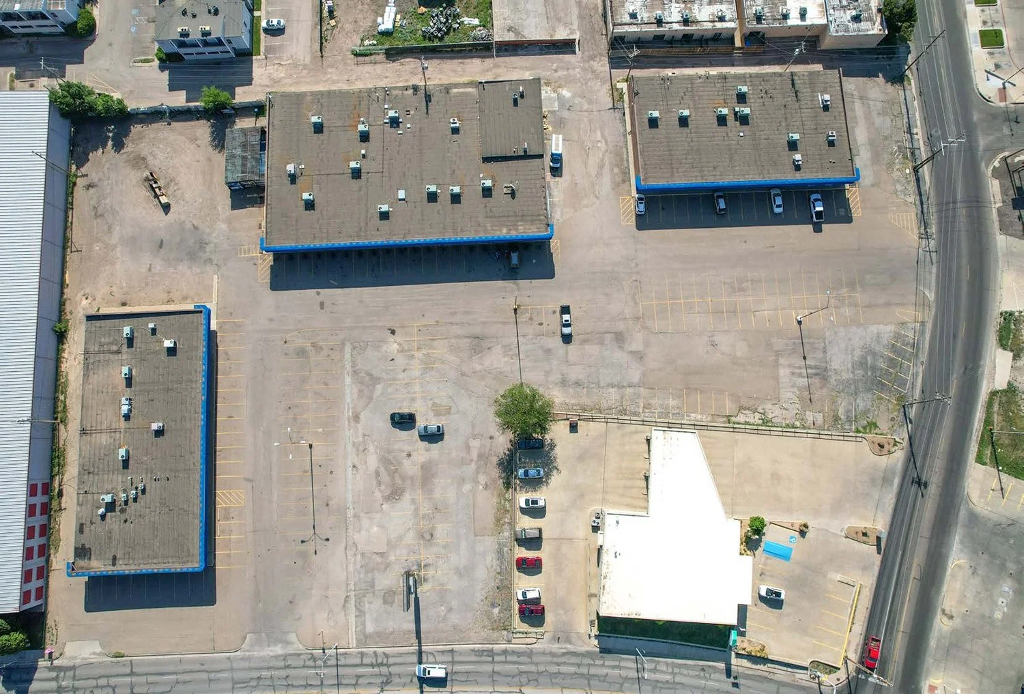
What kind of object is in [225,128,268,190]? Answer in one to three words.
shed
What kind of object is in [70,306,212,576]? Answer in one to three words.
building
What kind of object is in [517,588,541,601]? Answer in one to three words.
vehicle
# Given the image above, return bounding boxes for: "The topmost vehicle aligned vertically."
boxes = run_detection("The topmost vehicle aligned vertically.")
[550,134,563,168]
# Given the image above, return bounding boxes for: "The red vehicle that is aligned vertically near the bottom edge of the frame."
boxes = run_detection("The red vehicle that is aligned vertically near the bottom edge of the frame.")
[863,635,880,671]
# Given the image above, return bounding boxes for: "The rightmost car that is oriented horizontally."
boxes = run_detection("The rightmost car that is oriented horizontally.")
[757,586,786,600]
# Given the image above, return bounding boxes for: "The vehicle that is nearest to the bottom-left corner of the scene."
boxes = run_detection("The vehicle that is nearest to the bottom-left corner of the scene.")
[416,663,447,679]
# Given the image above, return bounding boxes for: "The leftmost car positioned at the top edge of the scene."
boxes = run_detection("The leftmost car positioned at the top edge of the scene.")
[262,19,286,31]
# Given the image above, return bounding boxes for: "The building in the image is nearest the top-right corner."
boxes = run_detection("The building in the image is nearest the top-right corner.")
[817,0,887,51]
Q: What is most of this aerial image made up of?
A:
paved ground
